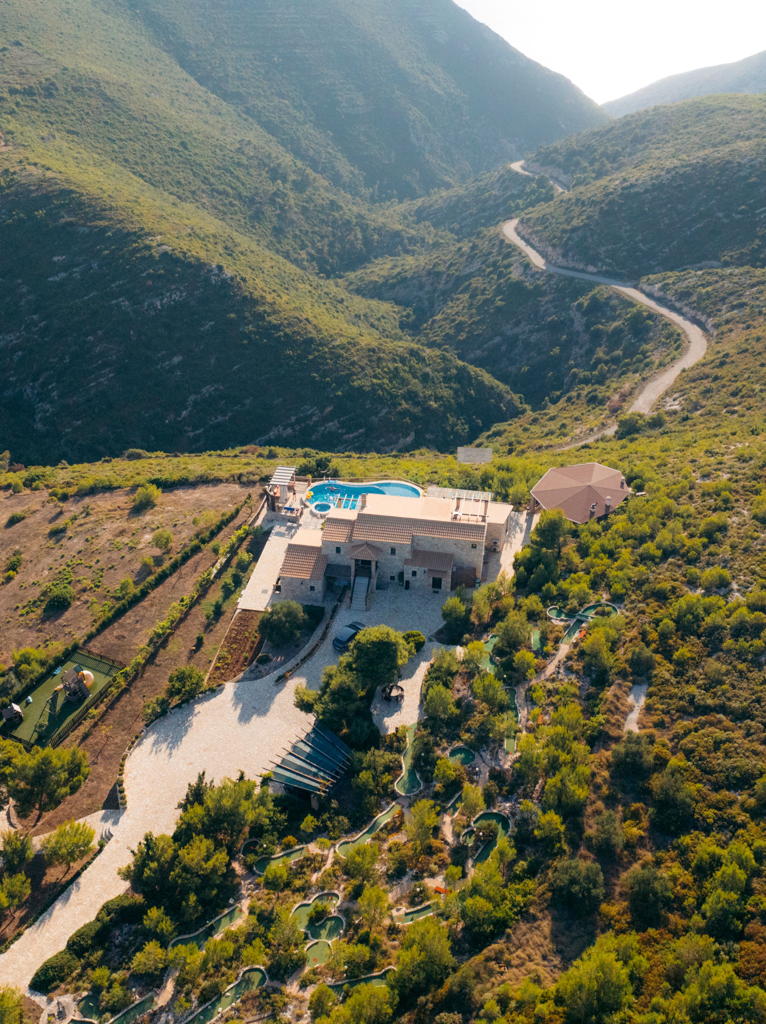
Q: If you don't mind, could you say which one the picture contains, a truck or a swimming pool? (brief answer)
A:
swimming pool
